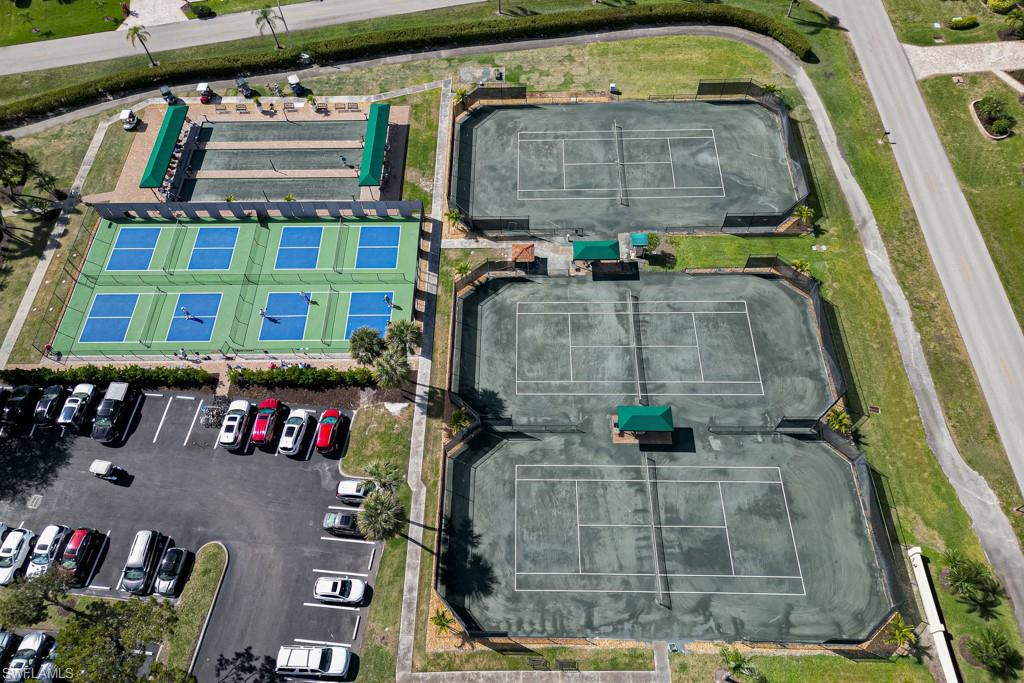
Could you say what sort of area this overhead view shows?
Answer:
sports ground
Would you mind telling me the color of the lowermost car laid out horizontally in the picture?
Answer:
white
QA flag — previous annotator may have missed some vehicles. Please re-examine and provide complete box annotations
[315,410,343,456]
[0,515,12,547]
[158,86,179,106]
[311,577,369,604]
[120,530,164,594]
[276,644,351,679]
[29,384,69,429]
[91,460,126,482]
[219,403,252,450]
[0,623,22,681]
[332,478,383,503]
[93,384,135,441]
[236,78,253,100]
[57,384,96,429]
[59,527,102,586]
[27,524,70,581]
[279,411,309,458]
[288,75,304,97]
[0,527,38,585]
[0,388,11,417]
[250,401,282,448]
[196,83,215,105]
[154,547,190,598]
[4,628,51,683]
[120,110,139,132]
[318,512,365,538]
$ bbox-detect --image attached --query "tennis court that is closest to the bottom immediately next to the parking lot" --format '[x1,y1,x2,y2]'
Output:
[440,432,891,643]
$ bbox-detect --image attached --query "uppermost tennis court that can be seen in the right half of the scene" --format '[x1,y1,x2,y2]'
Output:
[451,101,797,238]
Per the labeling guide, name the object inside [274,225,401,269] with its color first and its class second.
blue sports court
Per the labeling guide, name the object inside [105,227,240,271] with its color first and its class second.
blue sports court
